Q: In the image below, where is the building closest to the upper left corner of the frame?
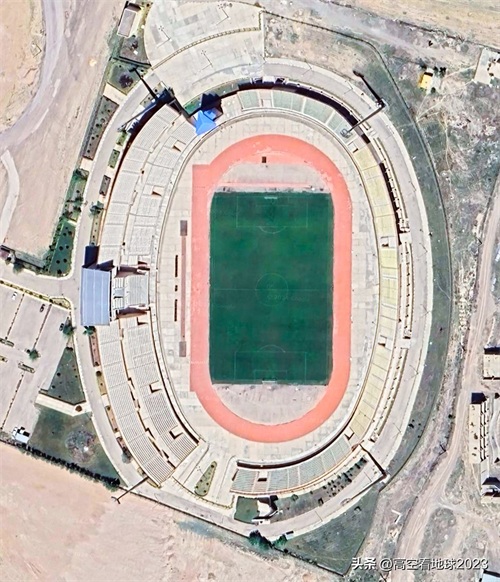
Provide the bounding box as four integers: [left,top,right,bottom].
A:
[116,7,141,38]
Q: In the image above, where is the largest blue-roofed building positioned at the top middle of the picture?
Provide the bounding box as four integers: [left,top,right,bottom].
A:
[198,104,226,135]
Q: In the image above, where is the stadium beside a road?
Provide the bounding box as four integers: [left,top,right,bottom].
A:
[81,76,410,493]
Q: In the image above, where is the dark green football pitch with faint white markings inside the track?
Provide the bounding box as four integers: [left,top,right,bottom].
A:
[209,193,336,384]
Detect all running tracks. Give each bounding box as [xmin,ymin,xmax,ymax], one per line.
[190,135,352,443]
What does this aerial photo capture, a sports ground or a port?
sports ground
